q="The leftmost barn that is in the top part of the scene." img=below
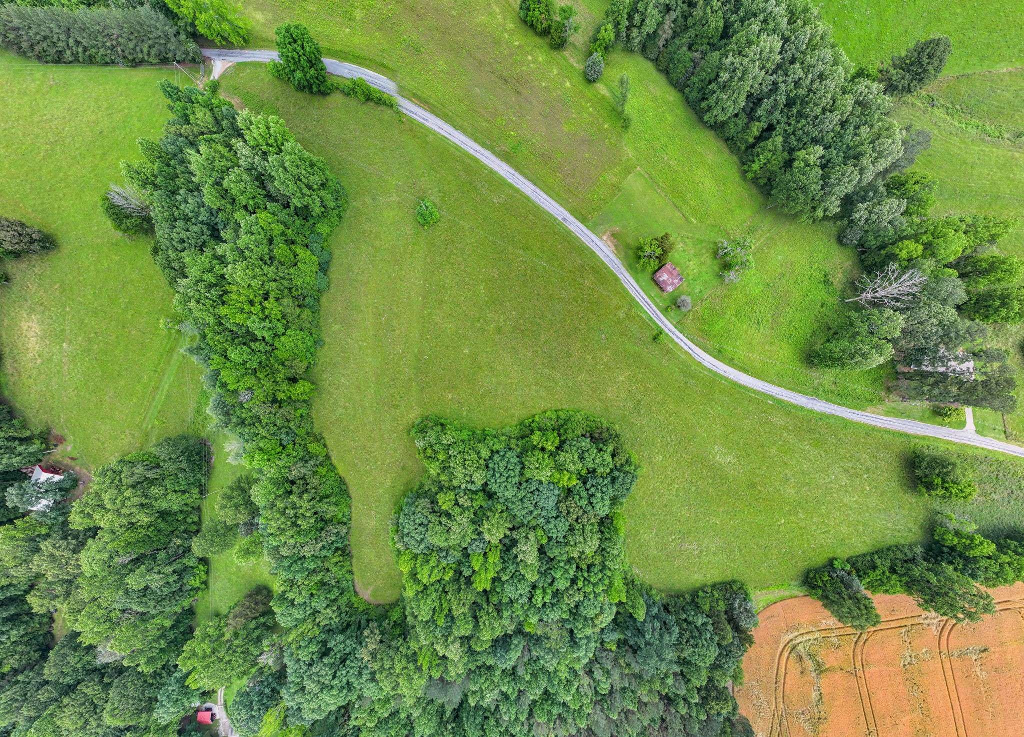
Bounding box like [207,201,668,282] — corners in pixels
[651,262,684,293]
